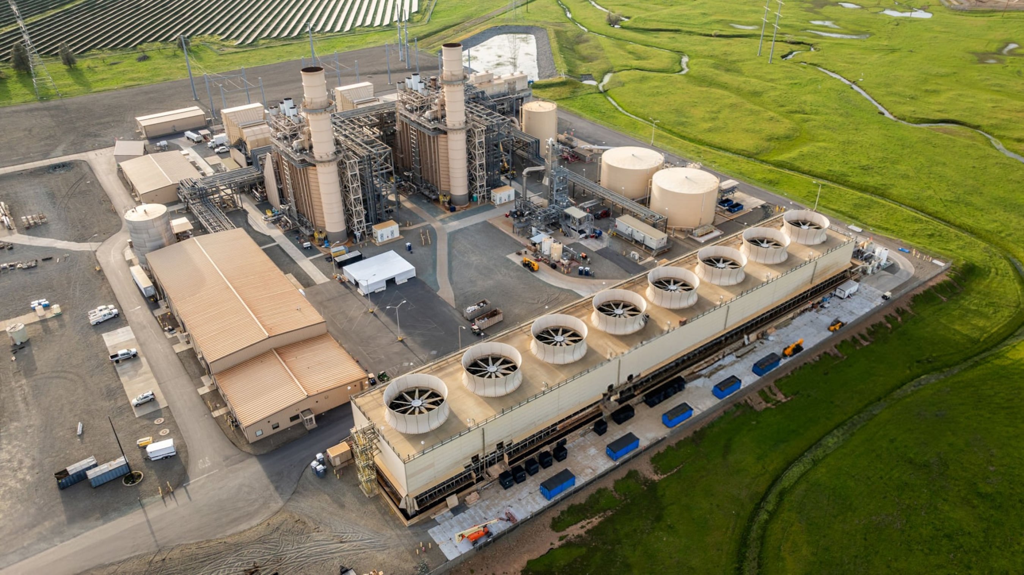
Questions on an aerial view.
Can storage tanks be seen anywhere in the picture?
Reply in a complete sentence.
Yes, there's a storage tank down there.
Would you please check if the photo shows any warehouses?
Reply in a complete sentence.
Yes, looking at the shot, I can spot a warehouse.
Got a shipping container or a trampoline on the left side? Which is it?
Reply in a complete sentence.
The one visible on the left side is a shipping container.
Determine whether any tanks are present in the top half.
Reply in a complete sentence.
Yes, the scene does show a tank in the top half.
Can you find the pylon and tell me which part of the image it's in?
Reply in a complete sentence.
The pylon is in the top left part of the image.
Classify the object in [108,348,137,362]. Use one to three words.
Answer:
vehicle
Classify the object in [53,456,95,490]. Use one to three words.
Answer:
shipping container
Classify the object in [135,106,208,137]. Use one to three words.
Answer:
building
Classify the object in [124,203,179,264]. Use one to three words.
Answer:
silo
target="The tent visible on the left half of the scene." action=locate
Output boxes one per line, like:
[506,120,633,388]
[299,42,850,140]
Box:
[343,251,416,299]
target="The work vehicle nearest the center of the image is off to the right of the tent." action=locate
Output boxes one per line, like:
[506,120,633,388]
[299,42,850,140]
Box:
[519,255,540,270]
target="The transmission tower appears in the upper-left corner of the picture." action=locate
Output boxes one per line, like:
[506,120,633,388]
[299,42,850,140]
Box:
[3,0,63,101]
